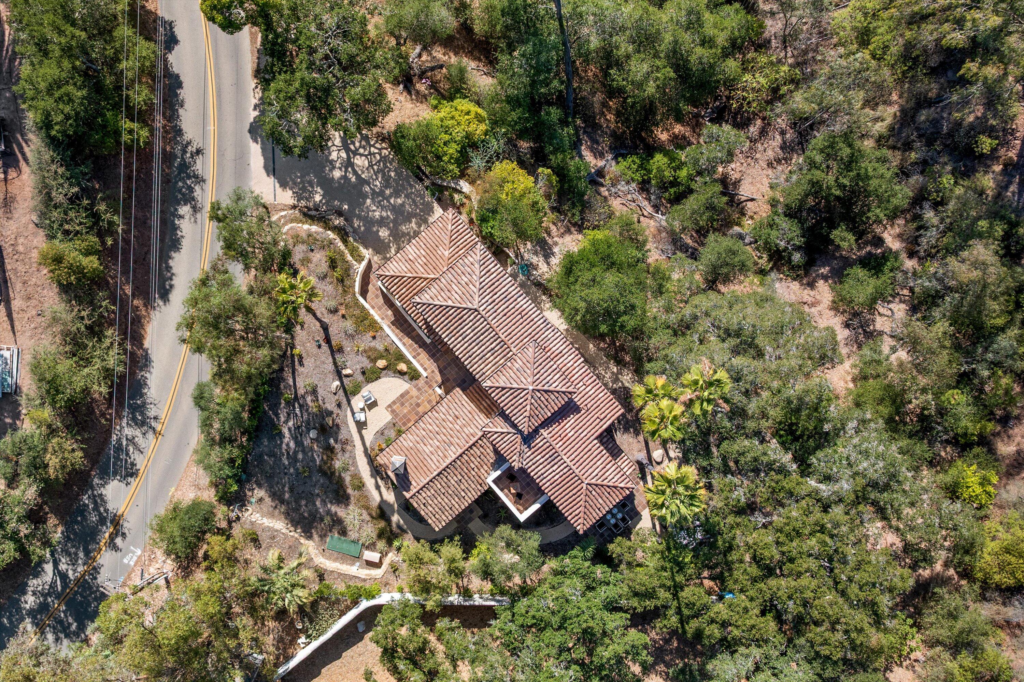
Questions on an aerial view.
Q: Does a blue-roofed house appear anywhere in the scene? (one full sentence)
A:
No, no blue-roofed house can be seen from above.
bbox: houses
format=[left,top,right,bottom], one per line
[374,207,637,535]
